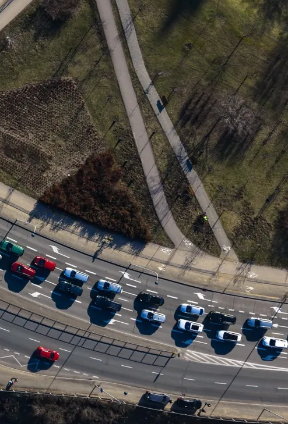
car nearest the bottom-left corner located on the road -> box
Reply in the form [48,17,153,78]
[34,347,59,361]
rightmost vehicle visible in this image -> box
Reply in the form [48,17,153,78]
[262,335,288,350]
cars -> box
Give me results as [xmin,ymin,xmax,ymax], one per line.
[34,347,59,361]
[57,278,84,297]
[137,292,164,307]
[246,315,273,330]
[10,260,36,280]
[176,317,205,334]
[215,329,242,343]
[262,335,288,350]
[145,391,171,406]
[32,255,57,273]
[93,294,122,314]
[96,278,123,294]
[179,302,205,317]
[0,238,25,258]
[63,266,90,284]
[207,310,238,326]
[140,308,167,325]
[176,397,201,411]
